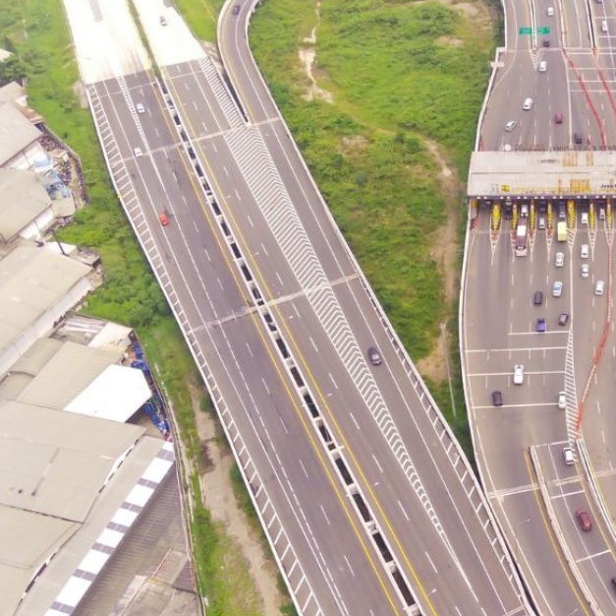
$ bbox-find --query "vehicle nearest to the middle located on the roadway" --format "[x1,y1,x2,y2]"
[367,347,380,362]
